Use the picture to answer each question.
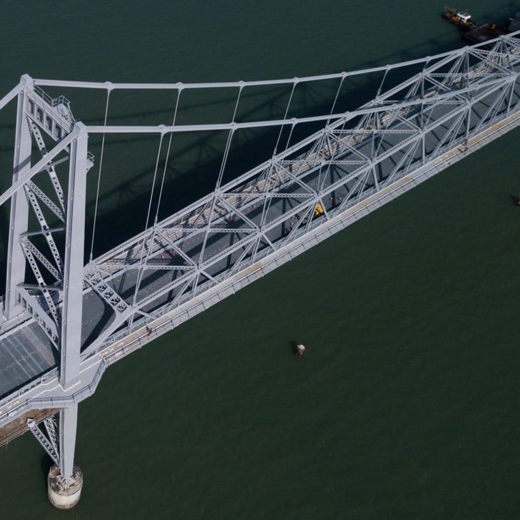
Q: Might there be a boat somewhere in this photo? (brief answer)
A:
Yes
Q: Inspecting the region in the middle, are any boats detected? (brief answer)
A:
No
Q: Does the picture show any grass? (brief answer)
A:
No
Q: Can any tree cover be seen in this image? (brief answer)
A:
No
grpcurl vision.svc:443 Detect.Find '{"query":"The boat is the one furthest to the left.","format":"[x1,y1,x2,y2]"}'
[444,1,480,26]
